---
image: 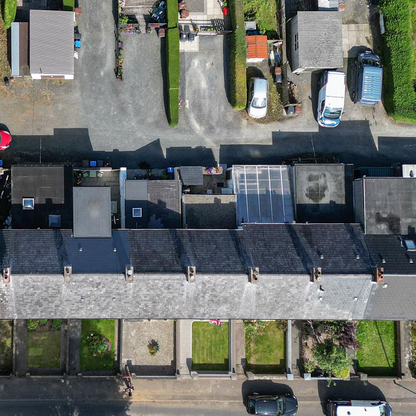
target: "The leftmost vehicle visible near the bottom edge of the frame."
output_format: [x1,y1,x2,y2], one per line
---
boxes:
[244,391,295,416]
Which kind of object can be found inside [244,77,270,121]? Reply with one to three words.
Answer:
car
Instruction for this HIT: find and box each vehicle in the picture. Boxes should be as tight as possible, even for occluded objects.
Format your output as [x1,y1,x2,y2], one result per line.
[0,129,11,151]
[324,397,386,416]
[316,68,345,126]
[244,77,270,121]
[244,391,295,416]
[352,50,381,104]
